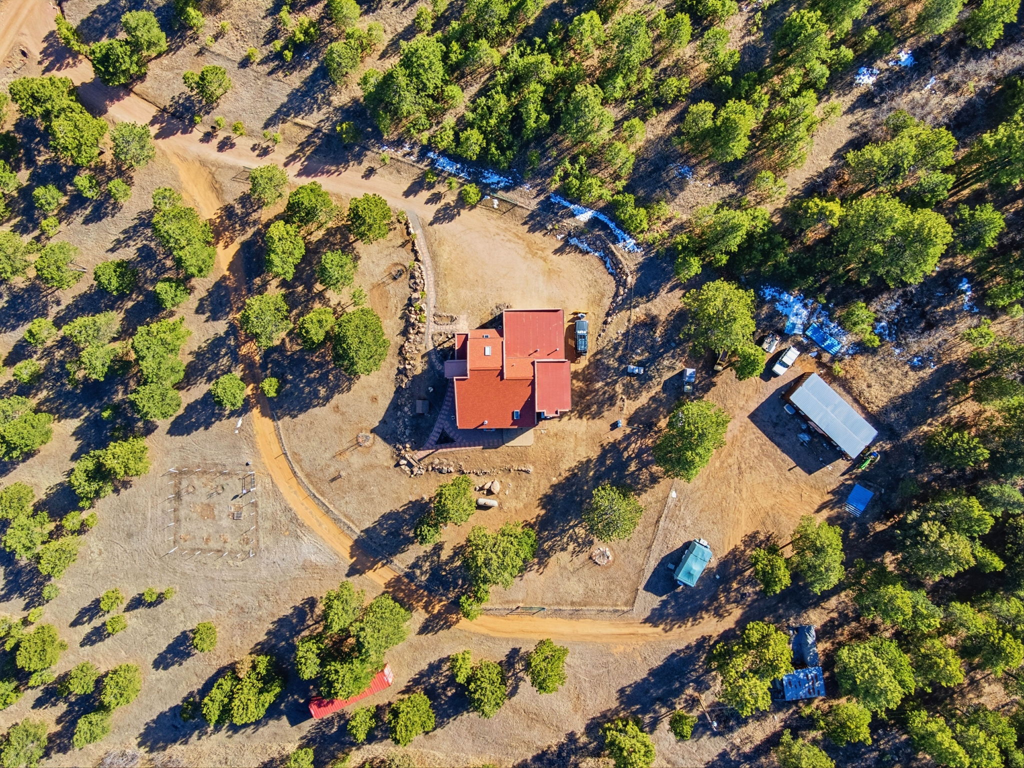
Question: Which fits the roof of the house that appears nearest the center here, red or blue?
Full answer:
The roof of the house that appears nearest the center is red.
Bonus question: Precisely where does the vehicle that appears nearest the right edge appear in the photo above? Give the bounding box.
[862,450,884,472]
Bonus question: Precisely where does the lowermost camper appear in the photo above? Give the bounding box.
[675,540,709,582]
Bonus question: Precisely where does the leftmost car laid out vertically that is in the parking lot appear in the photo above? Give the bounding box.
[575,321,590,357]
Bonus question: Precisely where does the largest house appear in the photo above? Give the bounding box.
[445,308,570,430]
